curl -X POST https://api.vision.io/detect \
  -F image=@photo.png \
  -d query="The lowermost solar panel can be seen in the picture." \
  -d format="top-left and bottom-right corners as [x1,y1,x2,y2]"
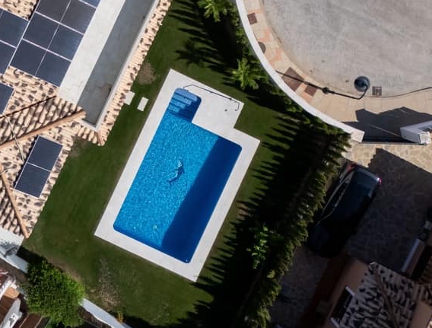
[14,137,62,197]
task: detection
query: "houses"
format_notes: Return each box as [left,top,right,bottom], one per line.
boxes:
[0,0,176,239]
[321,232,432,328]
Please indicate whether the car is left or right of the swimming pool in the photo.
right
